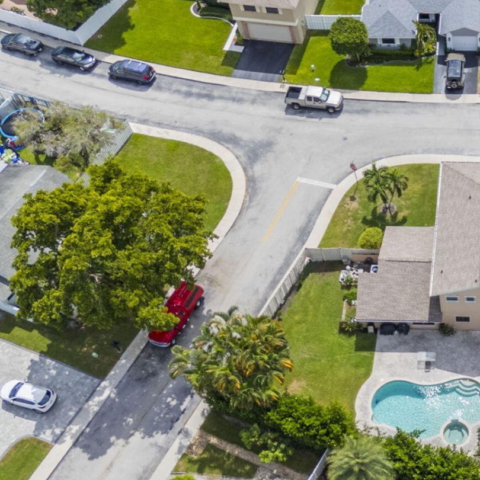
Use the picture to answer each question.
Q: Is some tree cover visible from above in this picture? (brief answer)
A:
Yes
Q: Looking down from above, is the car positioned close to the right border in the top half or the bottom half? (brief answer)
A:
top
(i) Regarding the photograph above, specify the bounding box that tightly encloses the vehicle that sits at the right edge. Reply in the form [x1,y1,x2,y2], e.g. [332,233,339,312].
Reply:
[443,57,467,90]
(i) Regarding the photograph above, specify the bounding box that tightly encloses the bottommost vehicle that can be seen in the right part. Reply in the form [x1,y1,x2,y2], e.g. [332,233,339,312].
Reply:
[283,86,344,113]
